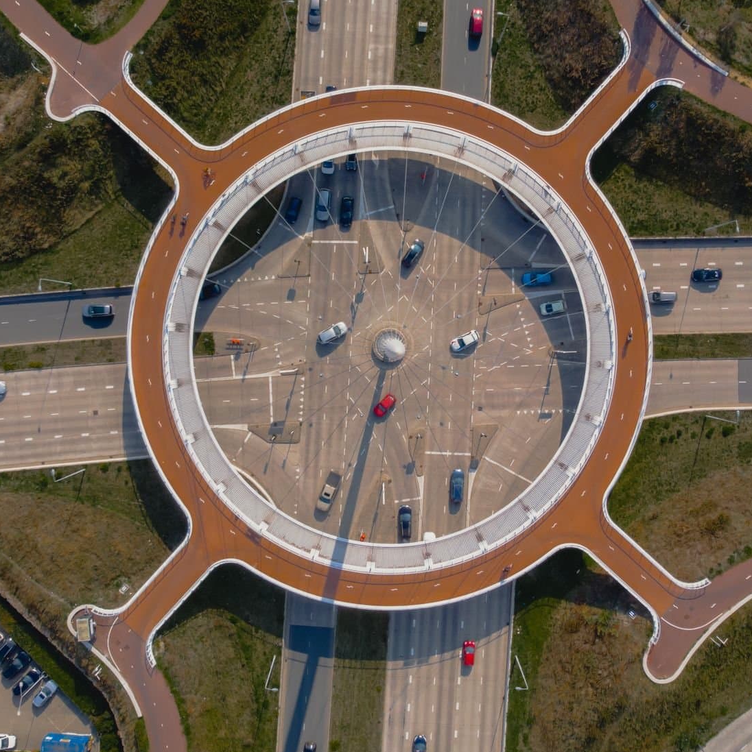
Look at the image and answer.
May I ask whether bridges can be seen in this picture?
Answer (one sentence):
Yes, you can see a bridge in this photo.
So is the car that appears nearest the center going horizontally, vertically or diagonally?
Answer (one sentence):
Seen from above, the car that appears nearest the center lies diagonally.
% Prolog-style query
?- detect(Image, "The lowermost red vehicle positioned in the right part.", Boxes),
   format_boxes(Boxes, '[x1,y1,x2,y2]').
[463,641,477,667]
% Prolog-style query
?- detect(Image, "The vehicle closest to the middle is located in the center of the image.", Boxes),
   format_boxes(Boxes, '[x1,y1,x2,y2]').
[371,393,396,420]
